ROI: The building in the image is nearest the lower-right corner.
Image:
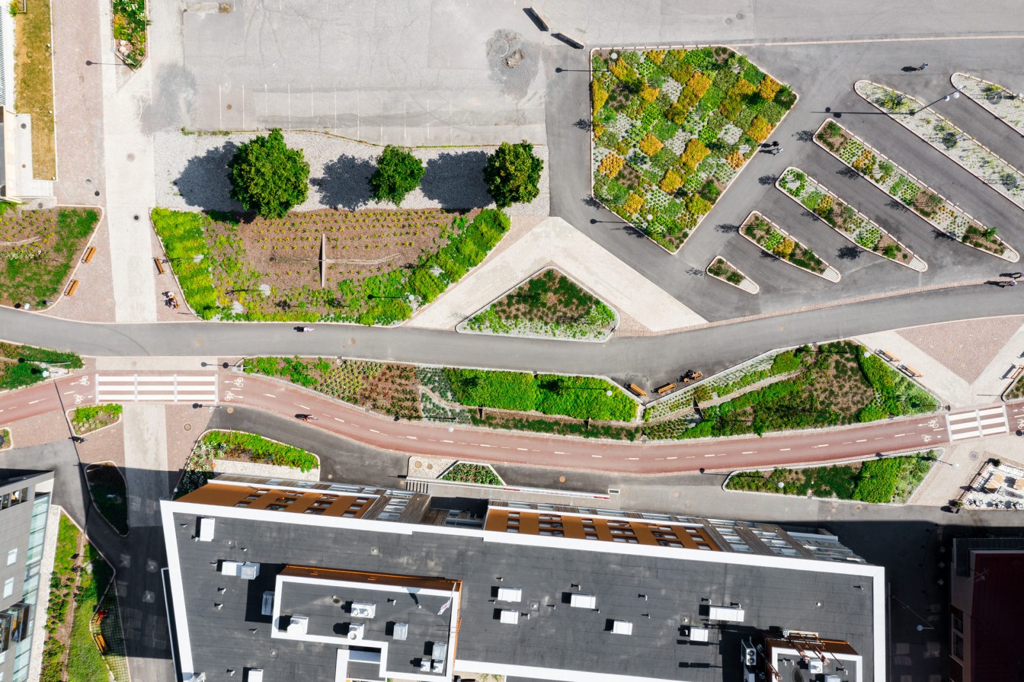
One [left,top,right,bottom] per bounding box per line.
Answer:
[940,537,1024,682]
